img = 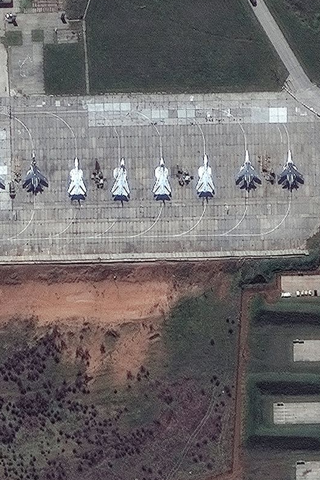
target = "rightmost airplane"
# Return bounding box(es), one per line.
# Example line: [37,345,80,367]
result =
[276,150,304,192]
